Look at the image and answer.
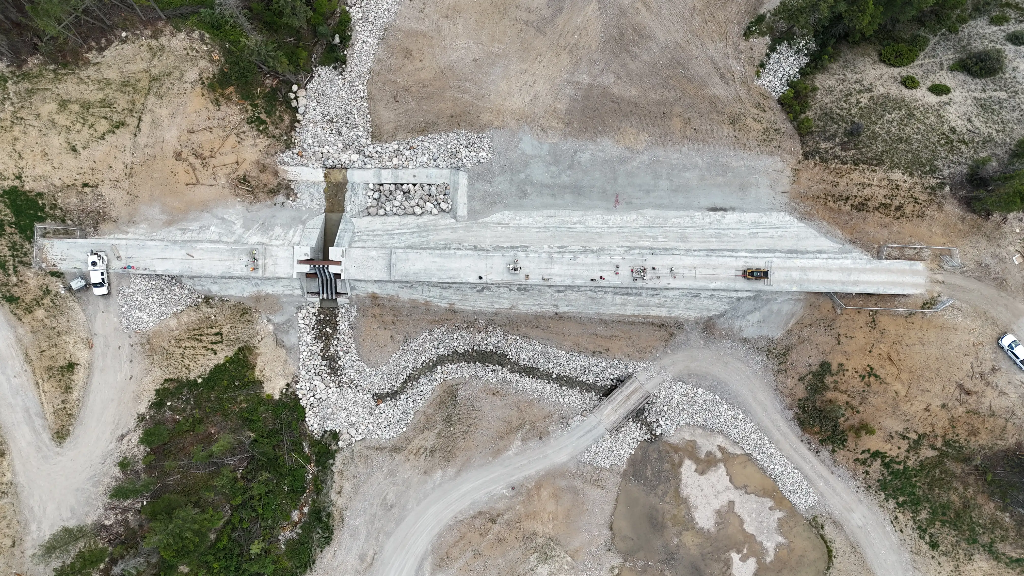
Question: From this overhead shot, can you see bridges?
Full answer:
Yes, the image includes a bridge.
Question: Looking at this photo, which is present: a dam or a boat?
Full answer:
It is a dam that can be seen here.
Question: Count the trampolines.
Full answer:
The count of trampolines is 0.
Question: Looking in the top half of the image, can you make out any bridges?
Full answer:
No, there is no bridge in the top half of the image.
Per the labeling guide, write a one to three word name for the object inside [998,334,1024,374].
truck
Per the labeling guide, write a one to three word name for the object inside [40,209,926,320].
dam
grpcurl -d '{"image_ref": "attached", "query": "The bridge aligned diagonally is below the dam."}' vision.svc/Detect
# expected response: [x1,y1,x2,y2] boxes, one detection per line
[591,374,652,432]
